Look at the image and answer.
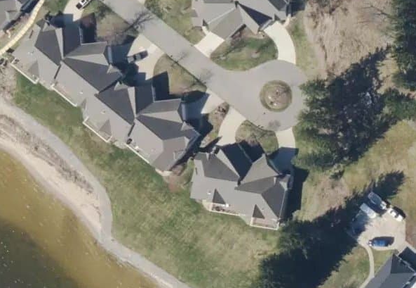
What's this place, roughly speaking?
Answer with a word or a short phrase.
residential area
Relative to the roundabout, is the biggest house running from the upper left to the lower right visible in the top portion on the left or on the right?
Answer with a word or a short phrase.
to the left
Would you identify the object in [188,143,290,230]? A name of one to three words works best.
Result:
house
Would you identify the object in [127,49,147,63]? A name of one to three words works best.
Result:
vehicle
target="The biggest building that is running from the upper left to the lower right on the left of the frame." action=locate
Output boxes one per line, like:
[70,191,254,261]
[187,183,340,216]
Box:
[11,20,196,173]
